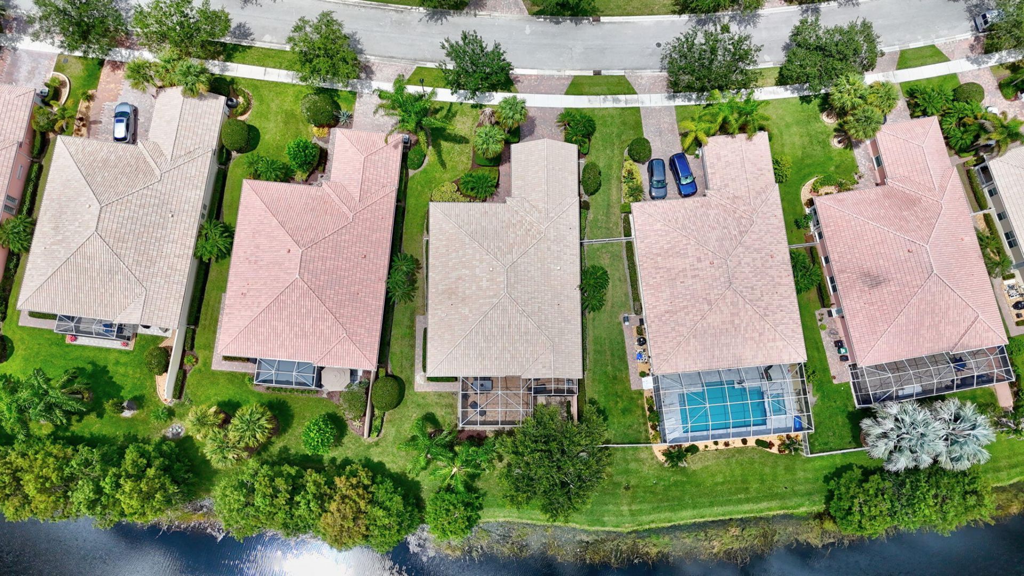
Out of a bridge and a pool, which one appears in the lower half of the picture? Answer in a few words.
pool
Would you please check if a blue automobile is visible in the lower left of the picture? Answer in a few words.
No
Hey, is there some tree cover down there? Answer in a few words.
Yes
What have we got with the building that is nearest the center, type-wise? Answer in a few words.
residential house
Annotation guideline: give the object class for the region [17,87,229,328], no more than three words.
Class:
house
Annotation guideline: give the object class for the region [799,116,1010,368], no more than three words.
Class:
house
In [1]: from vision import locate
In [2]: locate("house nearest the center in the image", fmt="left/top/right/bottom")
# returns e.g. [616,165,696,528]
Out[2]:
[424,137,585,380]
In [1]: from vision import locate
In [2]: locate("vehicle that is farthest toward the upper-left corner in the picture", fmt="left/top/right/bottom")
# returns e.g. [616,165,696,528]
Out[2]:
[114,105,137,143]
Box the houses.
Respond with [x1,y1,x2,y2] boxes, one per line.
[0,84,46,266]
[629,130,811,377]
[216,128,404,371]
[973,152,1024,301]
[799,116,1010,368]
[424,137,585,380]
[17,87,229,328]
